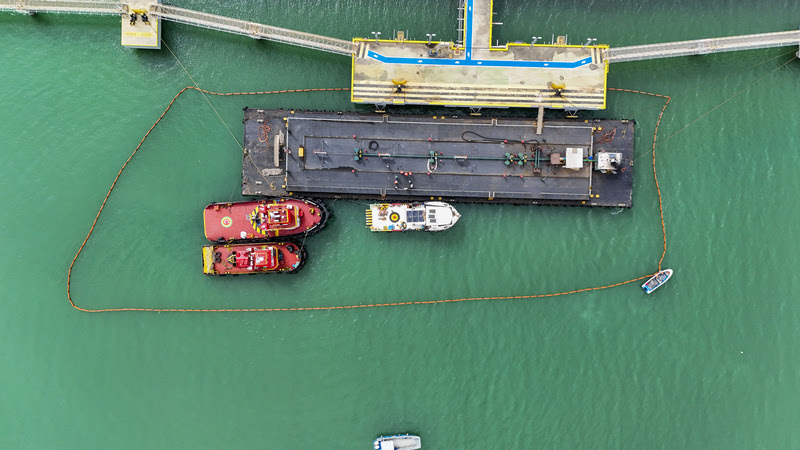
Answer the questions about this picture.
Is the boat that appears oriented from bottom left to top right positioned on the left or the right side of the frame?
right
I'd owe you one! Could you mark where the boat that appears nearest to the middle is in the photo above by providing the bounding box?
[366,203,461,232]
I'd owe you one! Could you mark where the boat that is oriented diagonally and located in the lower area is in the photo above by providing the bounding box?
[641,269,673,293]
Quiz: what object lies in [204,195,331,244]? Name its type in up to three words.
boat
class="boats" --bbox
[203,239,310,277]
[374,433,421,450]
[641,269,673,293]
[366,203,461,232]
[204,195,331,244]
